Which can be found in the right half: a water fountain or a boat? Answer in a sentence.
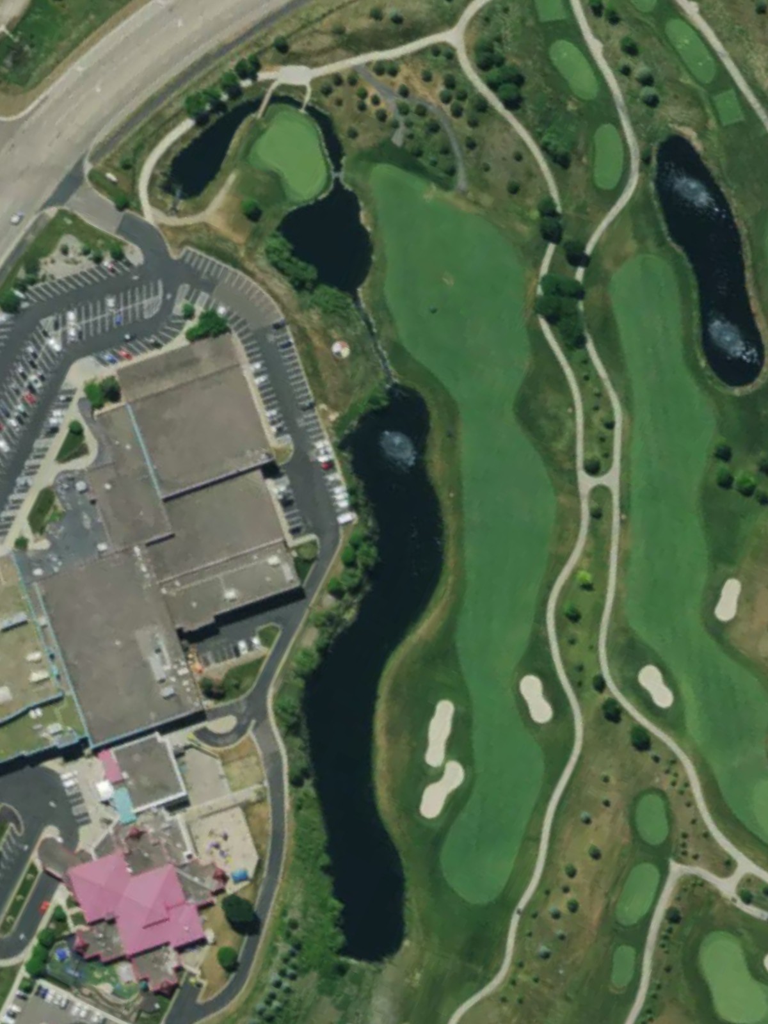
You can see a water fountain in the right half.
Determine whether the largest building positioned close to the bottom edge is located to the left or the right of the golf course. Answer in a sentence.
Compared with the golf course, the largest building positioned close to the bottom edge is located further to the left.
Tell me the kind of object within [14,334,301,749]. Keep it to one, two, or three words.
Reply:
building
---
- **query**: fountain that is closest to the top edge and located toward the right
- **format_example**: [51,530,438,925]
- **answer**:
[683,179,719,217]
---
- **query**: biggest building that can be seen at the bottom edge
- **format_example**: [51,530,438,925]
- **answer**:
[37,812,226,994]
